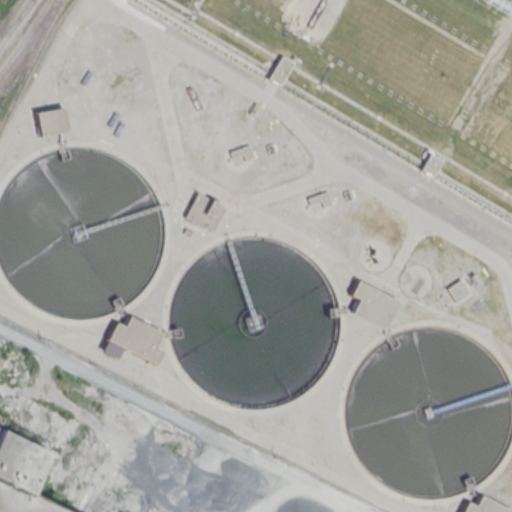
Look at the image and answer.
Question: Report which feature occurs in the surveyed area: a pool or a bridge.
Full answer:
There is a bridge in the scene.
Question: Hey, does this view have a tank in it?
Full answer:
Yes, there's a tank here.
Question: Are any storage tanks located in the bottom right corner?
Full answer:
Yes, a storage tank can be seen in the bottom right corner.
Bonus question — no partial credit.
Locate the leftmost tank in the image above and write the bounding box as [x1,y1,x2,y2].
[0,140,170,326]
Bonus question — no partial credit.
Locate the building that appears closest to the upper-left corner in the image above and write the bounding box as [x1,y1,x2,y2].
[36,110,70,136]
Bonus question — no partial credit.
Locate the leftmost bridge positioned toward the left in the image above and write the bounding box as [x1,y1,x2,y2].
[80,203,170,238]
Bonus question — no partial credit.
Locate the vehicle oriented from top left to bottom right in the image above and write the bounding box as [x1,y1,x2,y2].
[185,87,204,111]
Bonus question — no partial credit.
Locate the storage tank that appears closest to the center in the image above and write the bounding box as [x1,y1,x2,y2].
[164,230,342,413]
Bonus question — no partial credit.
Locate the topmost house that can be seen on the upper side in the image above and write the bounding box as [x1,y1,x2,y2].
[268,57,295,88]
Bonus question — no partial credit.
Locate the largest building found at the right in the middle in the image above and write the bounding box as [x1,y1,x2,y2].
[350,280,400,328]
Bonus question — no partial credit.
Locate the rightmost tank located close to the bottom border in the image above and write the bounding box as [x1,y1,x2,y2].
[342,324,512,504]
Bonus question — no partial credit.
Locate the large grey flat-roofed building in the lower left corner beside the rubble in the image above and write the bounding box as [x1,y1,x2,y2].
[0,428,58,496]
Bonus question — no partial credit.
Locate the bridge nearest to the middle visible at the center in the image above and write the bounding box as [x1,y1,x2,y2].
[225,234,260,332]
